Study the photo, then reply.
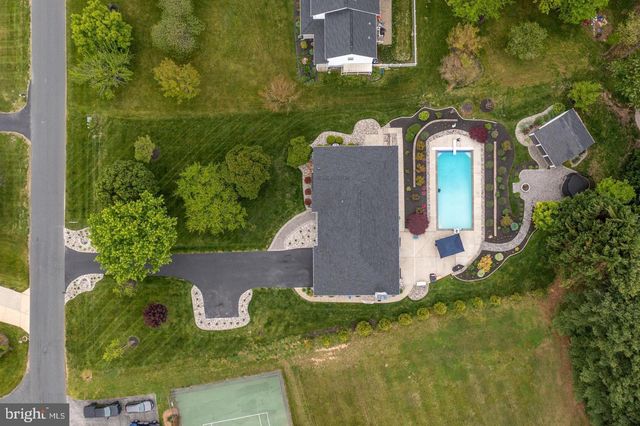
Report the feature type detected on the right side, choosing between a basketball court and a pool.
pool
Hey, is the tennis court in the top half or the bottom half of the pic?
bottom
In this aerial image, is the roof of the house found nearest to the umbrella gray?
Yes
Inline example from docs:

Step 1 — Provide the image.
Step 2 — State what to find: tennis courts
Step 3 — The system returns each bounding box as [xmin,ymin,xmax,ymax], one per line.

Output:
[171,370,291,426]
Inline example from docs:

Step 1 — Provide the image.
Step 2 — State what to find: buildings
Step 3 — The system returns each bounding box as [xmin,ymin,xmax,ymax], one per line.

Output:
[526,107,596,168]
[301,0,378,79]
[312,145,400,302]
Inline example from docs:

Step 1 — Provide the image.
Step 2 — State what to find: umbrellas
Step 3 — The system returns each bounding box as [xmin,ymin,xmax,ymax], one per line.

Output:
[435,234,464,258]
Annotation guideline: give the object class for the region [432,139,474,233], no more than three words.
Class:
swimming pool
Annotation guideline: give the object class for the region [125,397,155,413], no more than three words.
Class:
car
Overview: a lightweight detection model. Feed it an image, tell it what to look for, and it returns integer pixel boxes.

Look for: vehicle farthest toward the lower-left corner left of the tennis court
[83,402,121,419]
